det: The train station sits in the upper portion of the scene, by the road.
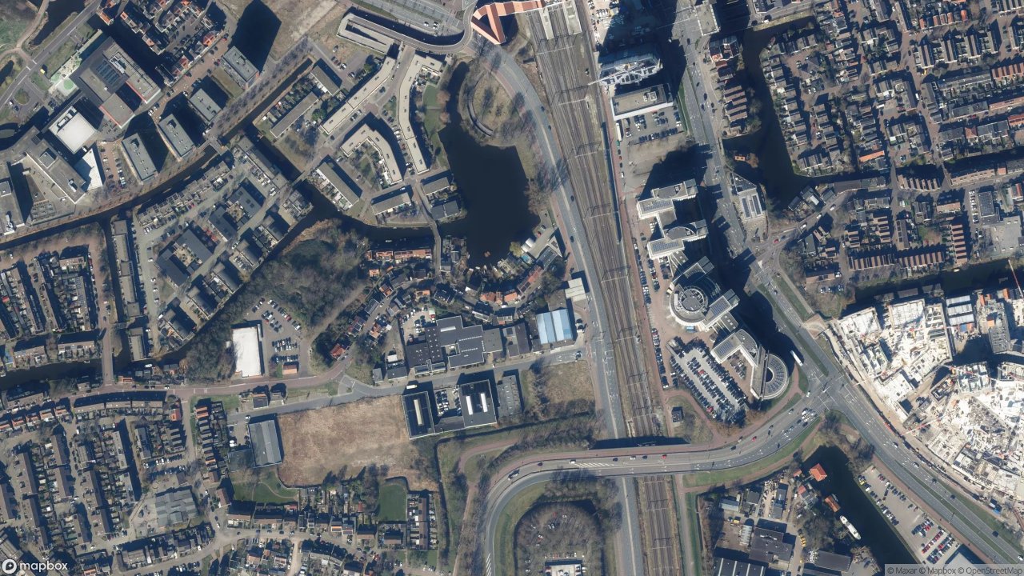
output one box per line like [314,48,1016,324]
[471,0,582,45]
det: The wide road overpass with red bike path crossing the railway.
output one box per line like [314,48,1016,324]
[472,401,814,576]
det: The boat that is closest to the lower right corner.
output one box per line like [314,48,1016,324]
[843,514,860,538]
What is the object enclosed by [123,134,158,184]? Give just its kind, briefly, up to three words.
building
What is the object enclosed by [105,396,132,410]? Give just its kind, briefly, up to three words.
building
